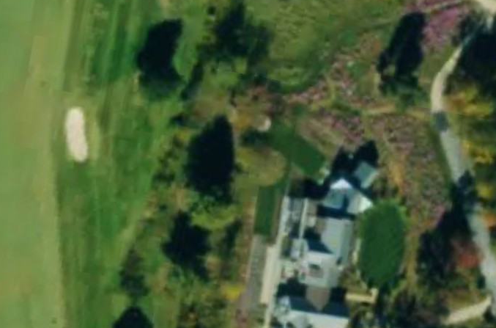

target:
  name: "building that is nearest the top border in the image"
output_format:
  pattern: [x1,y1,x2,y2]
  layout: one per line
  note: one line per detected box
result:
[353,162,379,190]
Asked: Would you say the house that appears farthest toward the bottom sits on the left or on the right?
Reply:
right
